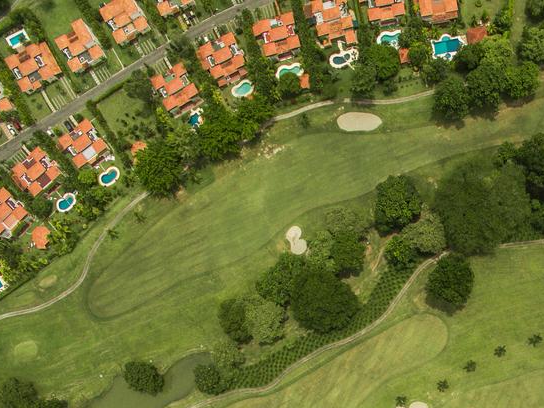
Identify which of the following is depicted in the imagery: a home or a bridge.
home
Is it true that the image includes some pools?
Yes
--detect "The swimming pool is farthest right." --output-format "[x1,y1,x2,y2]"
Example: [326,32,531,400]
[433,33,464,58]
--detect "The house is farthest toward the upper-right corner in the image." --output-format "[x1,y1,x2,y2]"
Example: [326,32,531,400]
[421,0,459,28]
